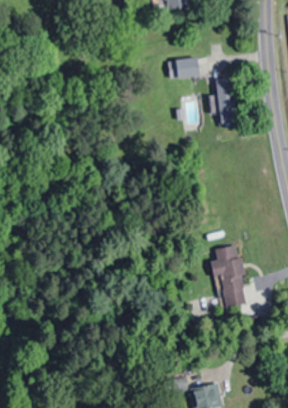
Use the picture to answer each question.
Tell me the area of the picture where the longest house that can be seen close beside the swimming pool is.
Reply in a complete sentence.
The longest house that can be seen close beside the swimming pool is located in the top right region of the scene.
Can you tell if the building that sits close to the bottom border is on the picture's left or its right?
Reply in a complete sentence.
You can find the building that sits close to the bottom border on the right side of the picture.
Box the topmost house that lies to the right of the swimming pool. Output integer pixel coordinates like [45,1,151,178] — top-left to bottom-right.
[210,74,236,126]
